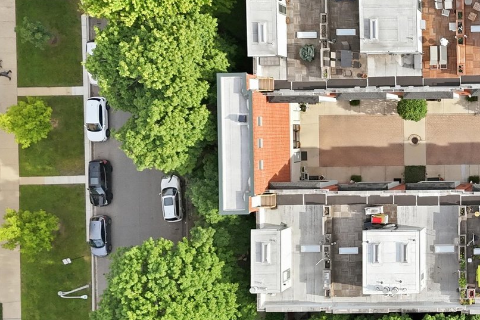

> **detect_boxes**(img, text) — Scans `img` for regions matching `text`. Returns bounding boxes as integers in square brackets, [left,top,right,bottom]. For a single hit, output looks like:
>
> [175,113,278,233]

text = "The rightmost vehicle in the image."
[157,175,185,222]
